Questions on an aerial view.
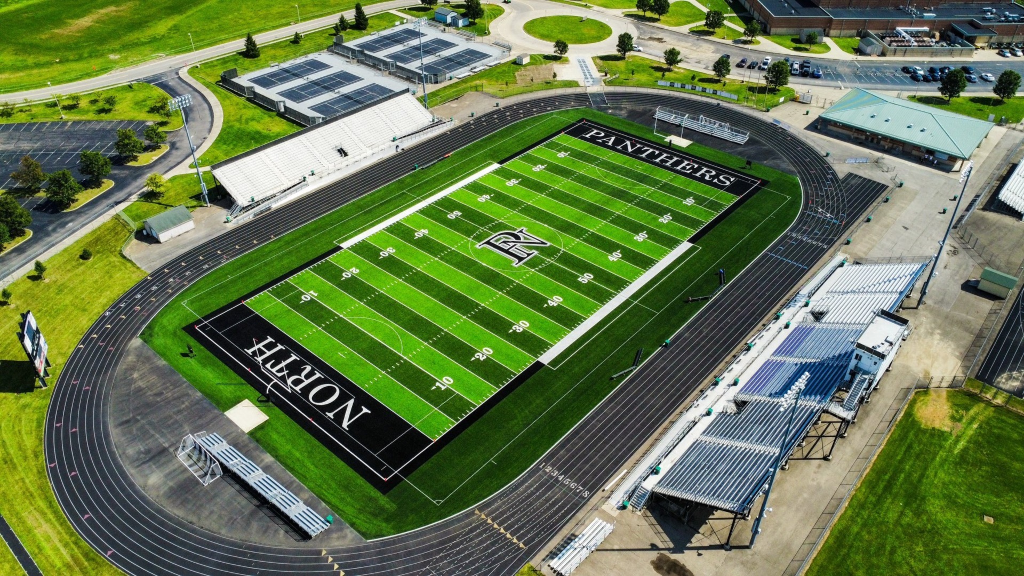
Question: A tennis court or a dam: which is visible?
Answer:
tennis court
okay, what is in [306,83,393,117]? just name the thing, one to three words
tennis court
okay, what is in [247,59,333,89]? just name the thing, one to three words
tennis court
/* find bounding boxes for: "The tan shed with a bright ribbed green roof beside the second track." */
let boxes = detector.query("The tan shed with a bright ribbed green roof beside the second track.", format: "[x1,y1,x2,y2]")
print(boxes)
[976,267,1021,299]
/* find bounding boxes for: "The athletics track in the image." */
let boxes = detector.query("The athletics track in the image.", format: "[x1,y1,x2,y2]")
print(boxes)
[40,92,884,576]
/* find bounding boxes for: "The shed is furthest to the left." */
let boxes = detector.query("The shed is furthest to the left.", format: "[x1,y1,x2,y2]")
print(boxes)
[143,205,194,243]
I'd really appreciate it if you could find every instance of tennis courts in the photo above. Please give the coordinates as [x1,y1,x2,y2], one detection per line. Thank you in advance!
[306,83,393,117]
[276,70,365,103]
[247,59,333,89]
[353,28,425,53]
[415,48,491,76]
[383,38,459,65]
